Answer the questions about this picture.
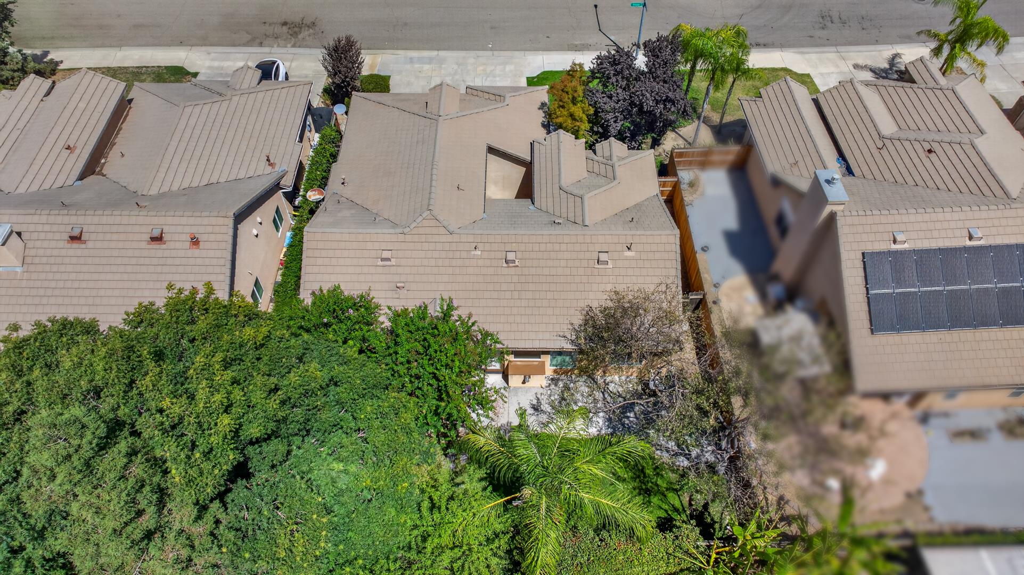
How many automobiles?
one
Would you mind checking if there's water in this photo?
No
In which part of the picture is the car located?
top left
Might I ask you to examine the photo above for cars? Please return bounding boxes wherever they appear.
[257,55,294,83]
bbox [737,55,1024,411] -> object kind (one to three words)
house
